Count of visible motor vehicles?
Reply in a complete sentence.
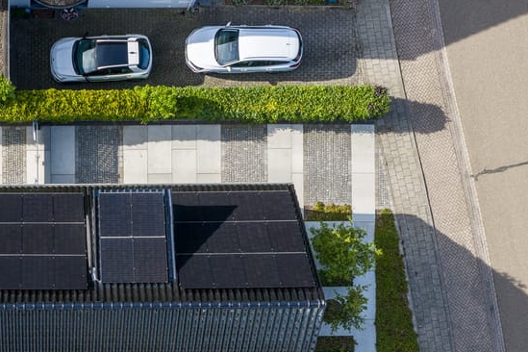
I count 2 motor vehicles.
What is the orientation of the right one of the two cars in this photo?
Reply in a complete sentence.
The right one of the two cars is oriented from left to right.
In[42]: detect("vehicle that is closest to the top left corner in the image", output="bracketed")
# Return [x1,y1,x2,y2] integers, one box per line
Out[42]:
[50,28,151,85]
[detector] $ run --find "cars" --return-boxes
[50,28,151,85]
[185,18,302,76]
